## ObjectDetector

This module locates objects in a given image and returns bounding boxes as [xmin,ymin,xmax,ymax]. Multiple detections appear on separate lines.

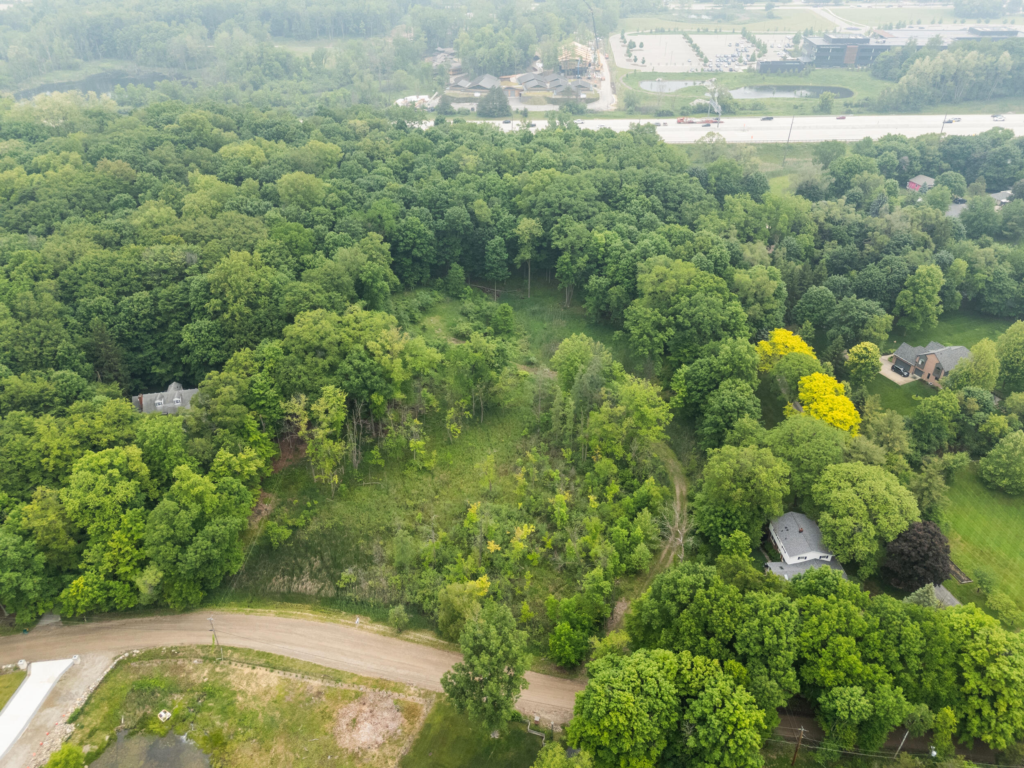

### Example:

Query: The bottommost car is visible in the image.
[891,365,911,378]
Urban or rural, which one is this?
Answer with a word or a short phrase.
rural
